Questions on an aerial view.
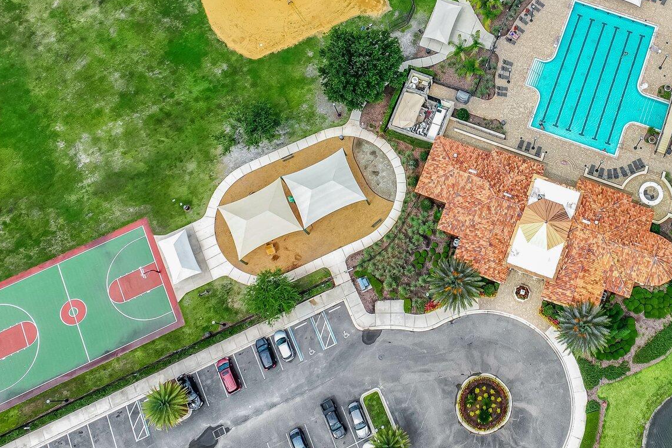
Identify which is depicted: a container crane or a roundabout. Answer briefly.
roundabout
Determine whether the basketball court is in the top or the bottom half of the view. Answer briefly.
bottom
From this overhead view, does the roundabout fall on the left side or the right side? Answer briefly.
right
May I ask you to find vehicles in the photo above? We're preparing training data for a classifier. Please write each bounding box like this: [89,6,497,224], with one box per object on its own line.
[319,396,346,442]
[178,374,204,412]
[288,426,310,448]
[217,356,242,395]
[255,335,278,373]
[347,401,370,440]
[273,327,295,365]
